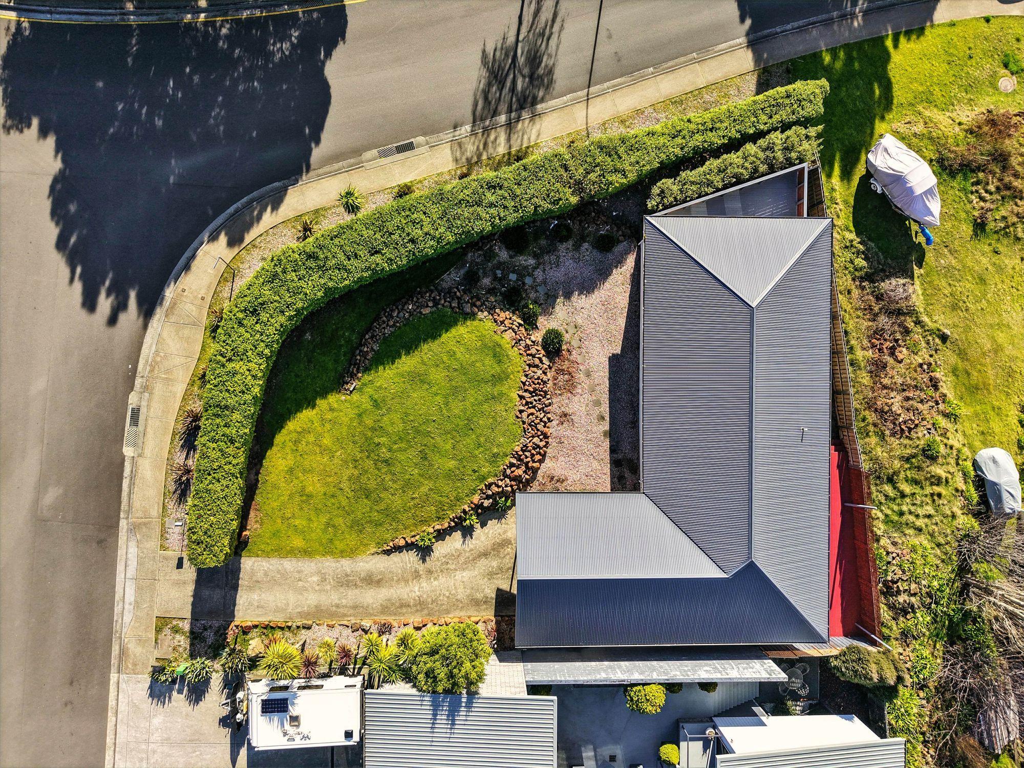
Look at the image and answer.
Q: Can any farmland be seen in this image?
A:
No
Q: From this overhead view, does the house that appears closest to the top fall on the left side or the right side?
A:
right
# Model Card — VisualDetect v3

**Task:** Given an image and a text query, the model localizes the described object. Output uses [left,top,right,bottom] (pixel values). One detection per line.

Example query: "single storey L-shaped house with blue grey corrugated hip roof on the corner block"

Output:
[515,214,836,648]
